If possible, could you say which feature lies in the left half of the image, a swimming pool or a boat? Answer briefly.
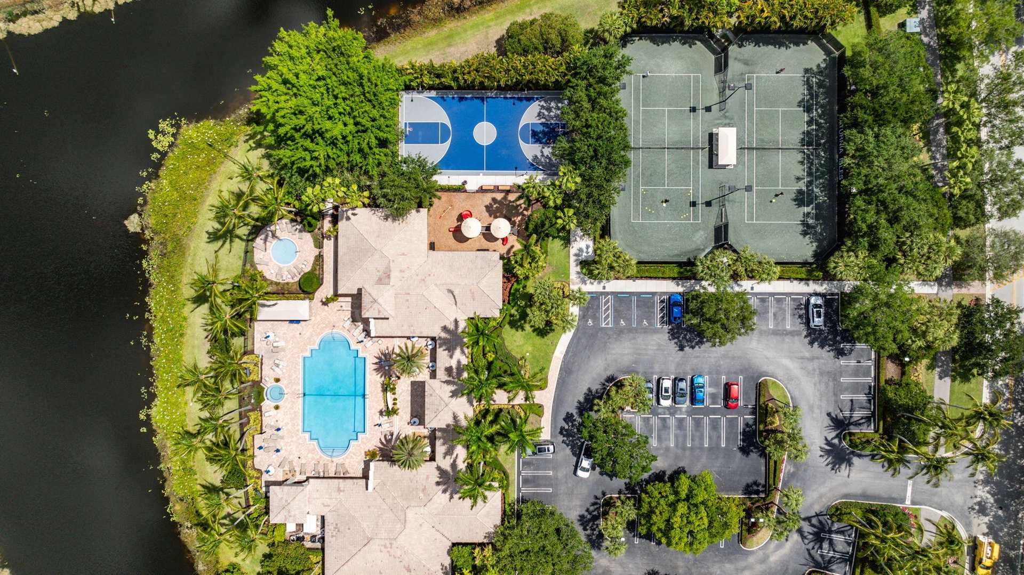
swimming pool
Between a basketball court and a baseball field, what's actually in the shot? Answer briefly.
basketball court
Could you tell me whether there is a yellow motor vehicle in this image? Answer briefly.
Yes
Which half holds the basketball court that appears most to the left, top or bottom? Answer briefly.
top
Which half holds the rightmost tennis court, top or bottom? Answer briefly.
top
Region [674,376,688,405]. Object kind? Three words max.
car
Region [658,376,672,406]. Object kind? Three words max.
car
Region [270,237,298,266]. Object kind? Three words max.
swimming pool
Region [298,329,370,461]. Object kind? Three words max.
swimming pool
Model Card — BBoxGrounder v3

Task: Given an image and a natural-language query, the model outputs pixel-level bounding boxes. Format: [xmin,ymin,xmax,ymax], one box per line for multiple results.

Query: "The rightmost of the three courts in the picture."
[722,34,838,261]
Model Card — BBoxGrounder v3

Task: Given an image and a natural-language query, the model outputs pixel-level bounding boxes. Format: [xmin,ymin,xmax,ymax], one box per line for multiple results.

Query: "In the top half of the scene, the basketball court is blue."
[399,91,570,176]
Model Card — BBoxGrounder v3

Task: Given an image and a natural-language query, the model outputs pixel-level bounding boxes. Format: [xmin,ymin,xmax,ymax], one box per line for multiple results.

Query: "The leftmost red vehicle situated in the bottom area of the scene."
[725,381,739,409]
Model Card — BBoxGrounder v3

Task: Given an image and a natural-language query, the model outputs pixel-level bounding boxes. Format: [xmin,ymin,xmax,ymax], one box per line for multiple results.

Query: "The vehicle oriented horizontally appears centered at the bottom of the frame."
[526,442,556,457]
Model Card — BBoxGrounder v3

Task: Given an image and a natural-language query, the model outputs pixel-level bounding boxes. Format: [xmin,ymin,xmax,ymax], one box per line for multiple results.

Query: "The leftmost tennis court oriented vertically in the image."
[613,34,722,261]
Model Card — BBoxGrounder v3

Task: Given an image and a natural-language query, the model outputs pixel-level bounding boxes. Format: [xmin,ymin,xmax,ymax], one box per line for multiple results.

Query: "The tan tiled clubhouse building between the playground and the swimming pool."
[338,208,503,336]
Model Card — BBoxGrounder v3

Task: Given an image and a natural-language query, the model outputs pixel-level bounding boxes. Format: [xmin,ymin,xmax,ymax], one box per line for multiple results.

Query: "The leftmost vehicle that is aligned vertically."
[576,441,593,478]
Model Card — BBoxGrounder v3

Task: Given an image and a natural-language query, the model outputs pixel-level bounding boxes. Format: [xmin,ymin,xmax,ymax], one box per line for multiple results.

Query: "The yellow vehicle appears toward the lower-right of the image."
[975,537,1006,575]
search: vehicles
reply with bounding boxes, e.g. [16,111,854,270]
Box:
[674,376,688,405]
[576,441,593,478]
[975,537,1006,575]
[808,296,824,328]
[725,381,739,409]
[669,293,682,323]
[658,376,672,406]
[640,377,654,403]
[690,375,705,406]
[526,442,556,457]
